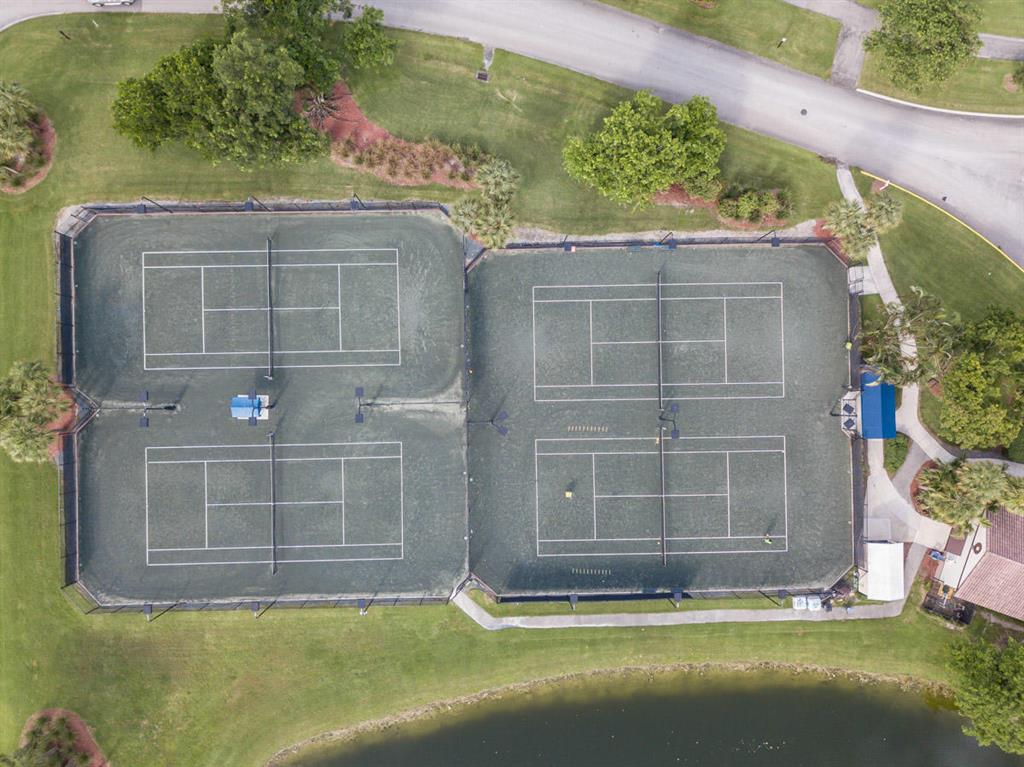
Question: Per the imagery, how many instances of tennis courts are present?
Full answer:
In total, 4 tennis courts can be seen.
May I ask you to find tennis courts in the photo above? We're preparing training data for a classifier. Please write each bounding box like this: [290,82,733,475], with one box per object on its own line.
[468,414,853,596]
[72,209,467,409]
[467,243,851,419]
[75,405,469,606]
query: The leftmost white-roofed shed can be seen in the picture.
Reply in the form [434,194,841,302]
[860,539,904,599]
